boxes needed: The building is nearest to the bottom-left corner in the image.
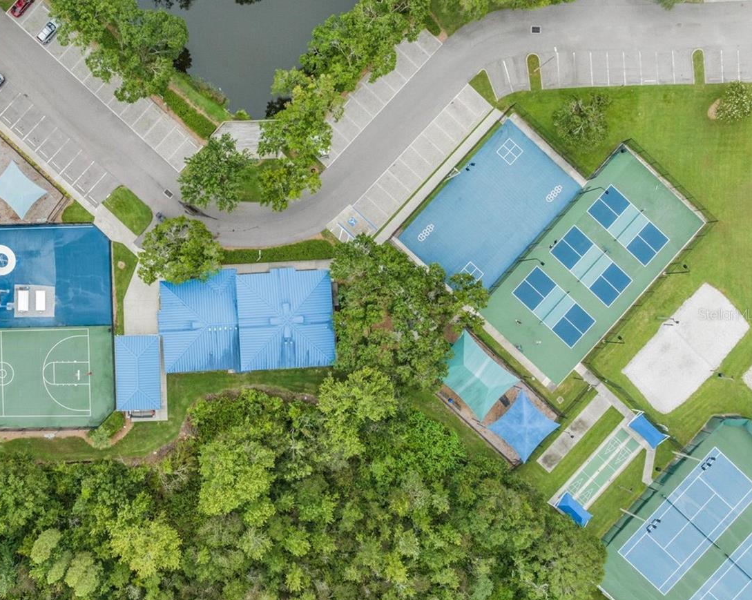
[114,335,161,411]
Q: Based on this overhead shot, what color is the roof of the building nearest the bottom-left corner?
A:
blue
